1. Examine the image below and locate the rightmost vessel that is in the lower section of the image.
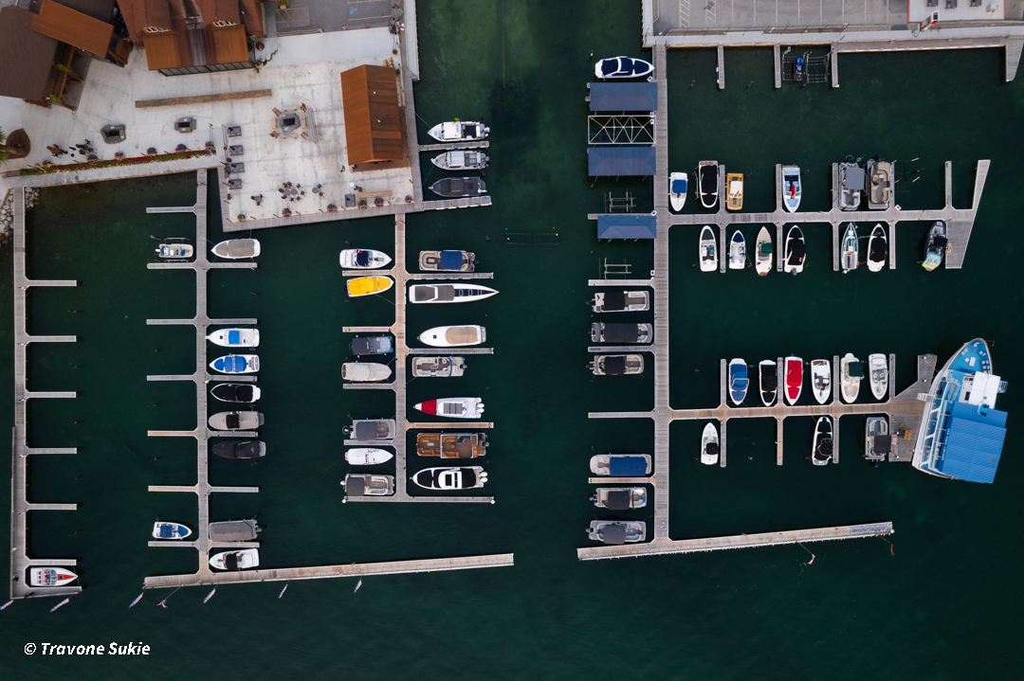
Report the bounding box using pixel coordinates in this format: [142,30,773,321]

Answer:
[915,338,1008,483]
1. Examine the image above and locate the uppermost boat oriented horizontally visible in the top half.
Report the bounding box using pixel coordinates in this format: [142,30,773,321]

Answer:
[593,55,655,79]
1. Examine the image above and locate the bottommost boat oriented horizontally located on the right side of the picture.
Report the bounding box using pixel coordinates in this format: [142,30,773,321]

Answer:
[584,515,653,548]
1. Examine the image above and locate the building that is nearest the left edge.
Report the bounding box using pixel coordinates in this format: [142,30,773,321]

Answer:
[0,0,136,119]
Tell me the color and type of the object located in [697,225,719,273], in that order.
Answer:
white boat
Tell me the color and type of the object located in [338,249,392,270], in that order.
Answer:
white boat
